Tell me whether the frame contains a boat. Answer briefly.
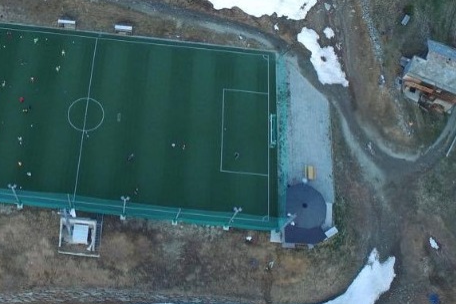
No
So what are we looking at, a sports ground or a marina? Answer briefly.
sports ground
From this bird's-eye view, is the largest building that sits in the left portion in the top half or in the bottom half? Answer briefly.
bottom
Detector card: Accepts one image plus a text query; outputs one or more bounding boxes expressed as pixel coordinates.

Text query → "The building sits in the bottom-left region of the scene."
[69,222,89,248]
